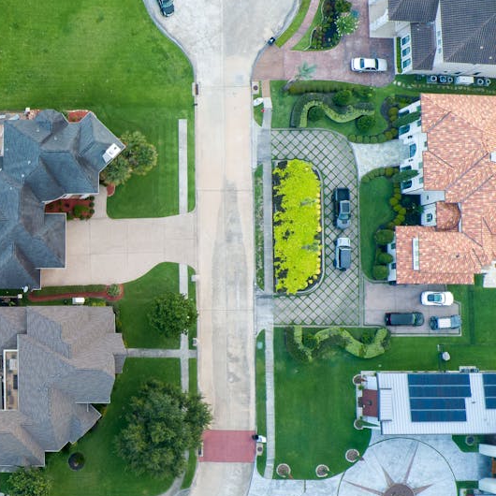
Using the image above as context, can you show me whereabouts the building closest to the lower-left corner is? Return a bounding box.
[0,305,126,467]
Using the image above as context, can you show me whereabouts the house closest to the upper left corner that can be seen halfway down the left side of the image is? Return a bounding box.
[0,109,126,290]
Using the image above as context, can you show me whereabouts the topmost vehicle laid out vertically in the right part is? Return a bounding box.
[332,187,352,228]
